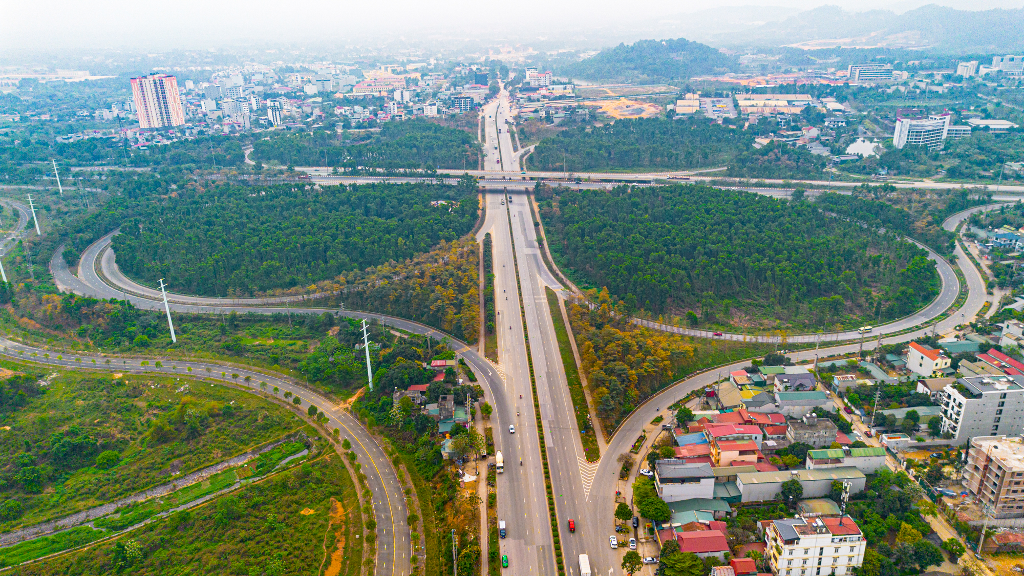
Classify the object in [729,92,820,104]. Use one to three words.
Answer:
building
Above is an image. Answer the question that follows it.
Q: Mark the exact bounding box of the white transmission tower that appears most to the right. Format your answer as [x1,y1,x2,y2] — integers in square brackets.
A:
[360,319,375,392]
